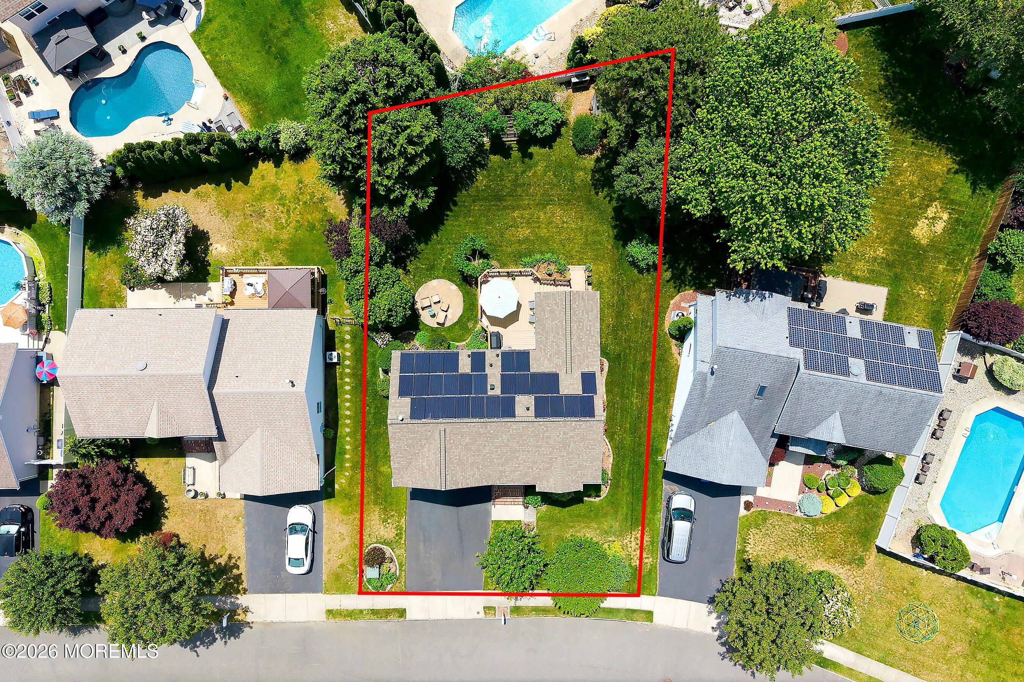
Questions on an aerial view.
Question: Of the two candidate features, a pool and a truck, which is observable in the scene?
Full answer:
Visible in the photo is a pool.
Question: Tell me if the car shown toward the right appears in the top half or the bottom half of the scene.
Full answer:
Seen from above, the car shown toward the right lies in the bottom half of the view.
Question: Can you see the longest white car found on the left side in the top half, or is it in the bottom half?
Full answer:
The bottom half of the photo is where the longest white car found on the left side is.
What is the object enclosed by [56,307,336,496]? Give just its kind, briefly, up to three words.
house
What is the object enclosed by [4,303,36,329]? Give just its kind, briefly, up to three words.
umbrella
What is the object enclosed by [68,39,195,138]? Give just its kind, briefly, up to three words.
swimming pool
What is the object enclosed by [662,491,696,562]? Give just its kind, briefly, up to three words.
car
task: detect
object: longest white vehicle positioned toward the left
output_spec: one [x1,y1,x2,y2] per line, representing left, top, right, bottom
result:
[283,503,316,574]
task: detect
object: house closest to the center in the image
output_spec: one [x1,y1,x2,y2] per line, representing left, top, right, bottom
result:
[388,290,604,493]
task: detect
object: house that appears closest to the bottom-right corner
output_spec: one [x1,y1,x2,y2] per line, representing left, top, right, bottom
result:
[655,287,944,486]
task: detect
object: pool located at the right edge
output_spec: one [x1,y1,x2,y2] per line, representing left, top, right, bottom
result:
[939,405,1024,542]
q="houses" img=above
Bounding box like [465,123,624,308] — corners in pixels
[0,342,39,490]
[388,290,604,493]
[655,287,944,486]
[0,0,113,35]
[56,307,336,496]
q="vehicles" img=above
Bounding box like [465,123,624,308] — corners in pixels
[0,493,34,565]
[283,503,316,574]
[662,491,696,562]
